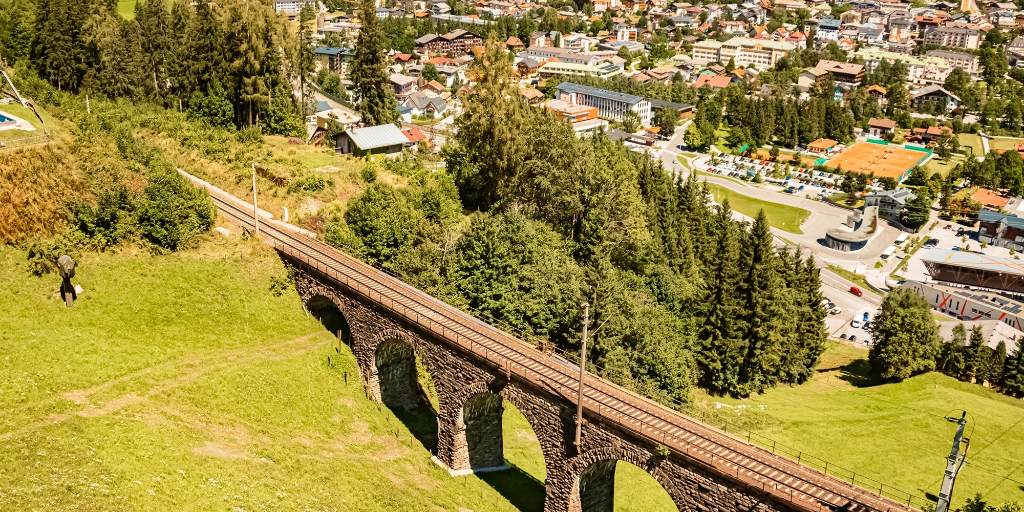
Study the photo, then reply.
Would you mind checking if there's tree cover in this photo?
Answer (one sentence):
Yes, there is tree cover in the image.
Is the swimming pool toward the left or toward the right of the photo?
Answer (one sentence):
You can find the swimming pool on the left side of the picture.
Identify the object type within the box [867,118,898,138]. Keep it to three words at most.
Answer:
house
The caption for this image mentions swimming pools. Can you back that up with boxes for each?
[0,110,36,141]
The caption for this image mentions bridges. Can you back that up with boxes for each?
[261,233,913,512]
